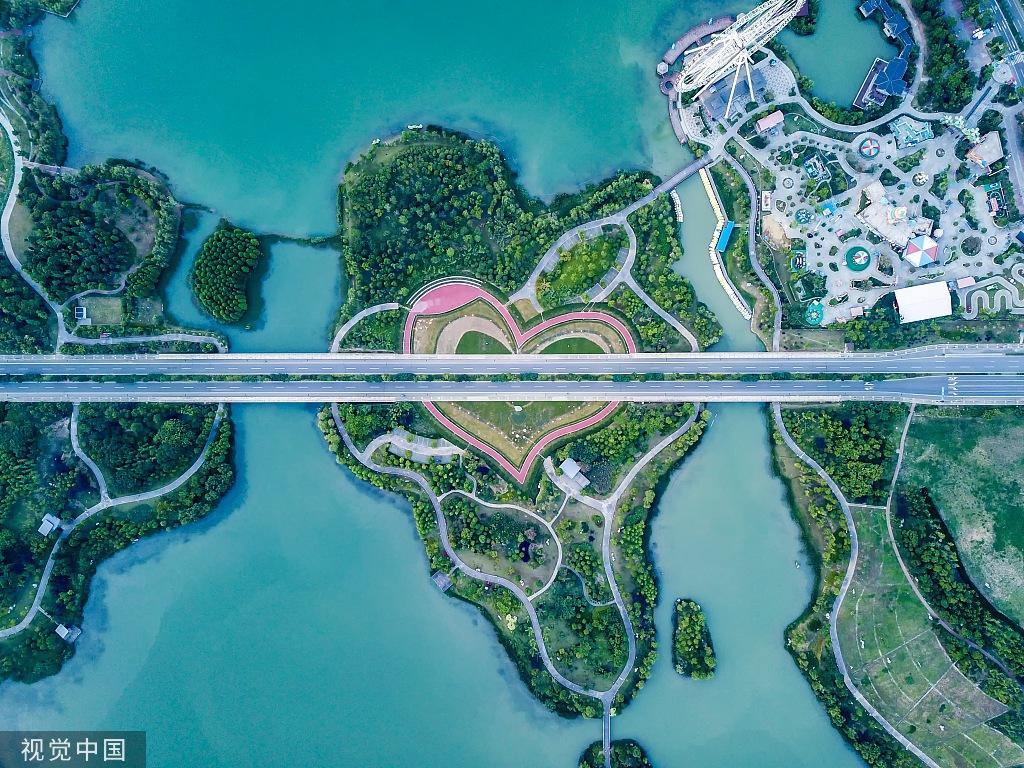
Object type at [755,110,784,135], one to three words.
building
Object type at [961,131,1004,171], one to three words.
building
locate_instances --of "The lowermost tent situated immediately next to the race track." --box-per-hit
[889,281,952,325]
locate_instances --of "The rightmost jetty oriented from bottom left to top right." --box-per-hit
[662,14,736,66]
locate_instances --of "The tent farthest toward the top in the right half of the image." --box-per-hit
[899,235,938,268]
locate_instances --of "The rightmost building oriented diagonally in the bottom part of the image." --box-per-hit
[559,458,587,489]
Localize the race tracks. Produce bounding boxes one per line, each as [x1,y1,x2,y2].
[956,261,1024,320]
